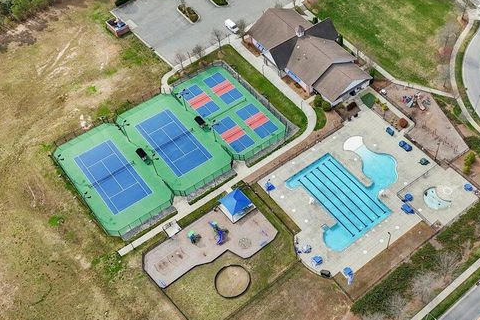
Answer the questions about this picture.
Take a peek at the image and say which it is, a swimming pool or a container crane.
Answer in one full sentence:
The image shows a swimming pool.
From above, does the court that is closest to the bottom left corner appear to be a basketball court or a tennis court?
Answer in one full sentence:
It turns out the court that is closest to the bottom left corner is a tennis court.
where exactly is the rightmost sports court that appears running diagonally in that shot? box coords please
[236,103,279,139]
